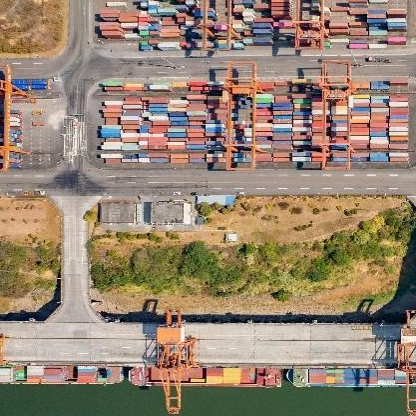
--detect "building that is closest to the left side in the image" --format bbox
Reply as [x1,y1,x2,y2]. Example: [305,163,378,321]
[99,202,136,223]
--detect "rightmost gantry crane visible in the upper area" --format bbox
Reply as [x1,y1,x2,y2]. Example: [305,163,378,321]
[318,60,358,172]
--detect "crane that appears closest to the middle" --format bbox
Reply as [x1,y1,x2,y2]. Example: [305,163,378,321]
[222,61,269,172]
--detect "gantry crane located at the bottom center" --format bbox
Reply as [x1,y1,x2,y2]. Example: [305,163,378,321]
[157,308,205,416]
